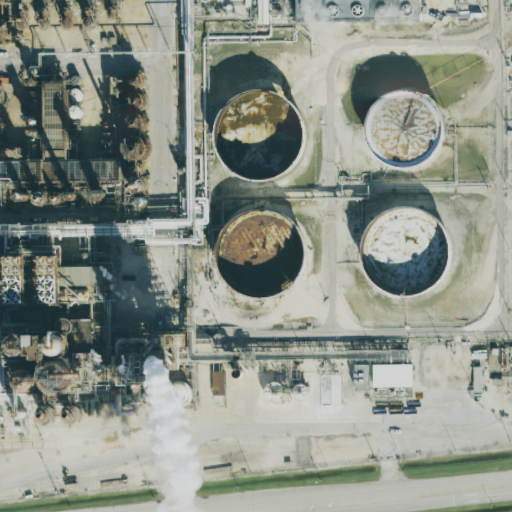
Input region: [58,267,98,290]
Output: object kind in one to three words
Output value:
building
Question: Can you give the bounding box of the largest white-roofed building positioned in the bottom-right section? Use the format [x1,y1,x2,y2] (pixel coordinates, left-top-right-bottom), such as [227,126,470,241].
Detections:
[372,364,414,388]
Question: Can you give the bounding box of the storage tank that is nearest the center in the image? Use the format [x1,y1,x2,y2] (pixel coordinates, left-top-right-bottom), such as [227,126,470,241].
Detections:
[216,208,313,303]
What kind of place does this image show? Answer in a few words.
industrial area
